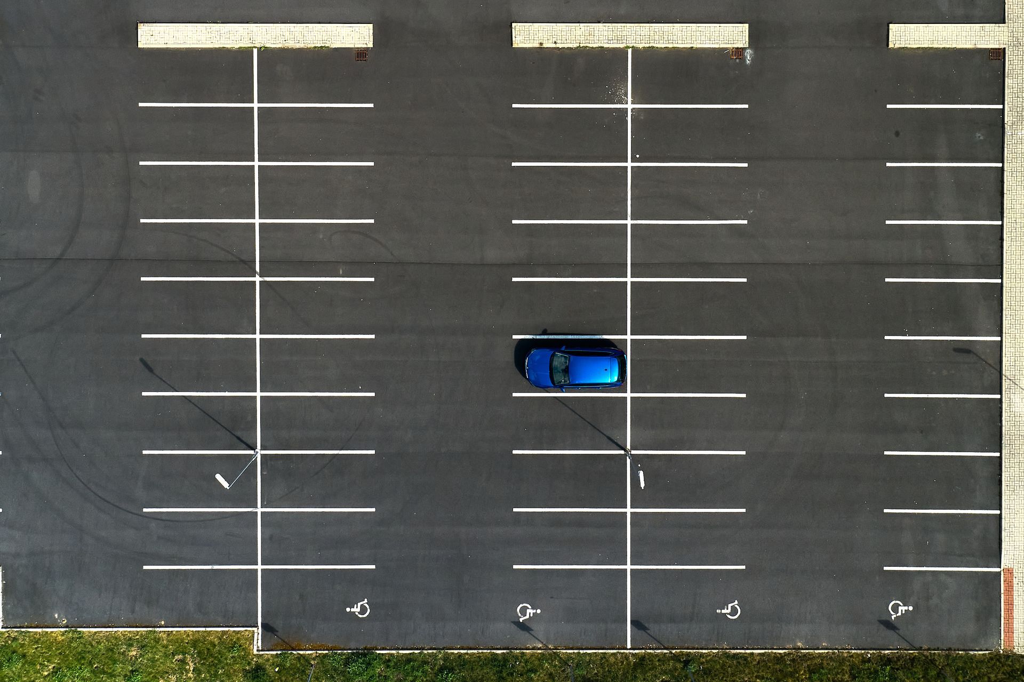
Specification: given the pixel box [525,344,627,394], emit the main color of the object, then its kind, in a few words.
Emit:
blue car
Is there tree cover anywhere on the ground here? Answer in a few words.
No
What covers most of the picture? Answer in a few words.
paved ground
